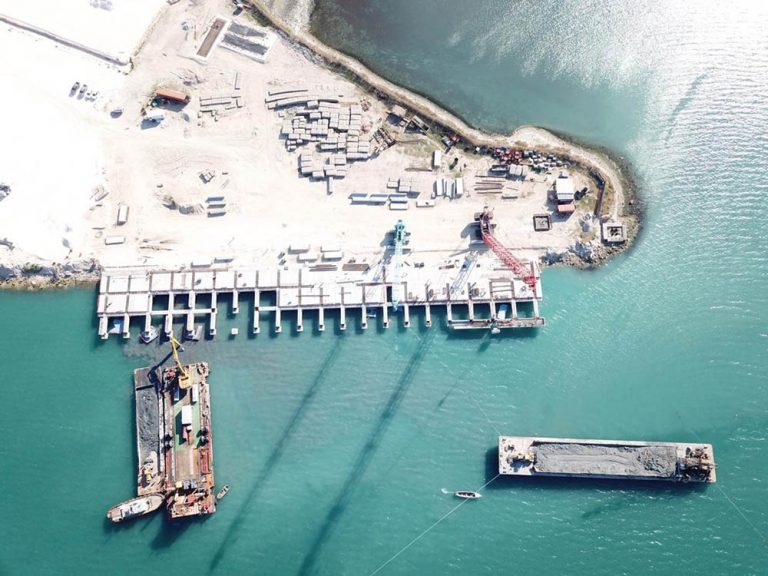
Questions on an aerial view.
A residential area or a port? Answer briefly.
port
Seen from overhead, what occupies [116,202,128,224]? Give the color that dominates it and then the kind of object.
white vehicle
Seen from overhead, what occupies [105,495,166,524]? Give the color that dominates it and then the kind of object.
white boat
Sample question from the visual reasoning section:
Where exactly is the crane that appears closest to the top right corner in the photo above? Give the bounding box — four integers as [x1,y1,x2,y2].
[472,202,541,336]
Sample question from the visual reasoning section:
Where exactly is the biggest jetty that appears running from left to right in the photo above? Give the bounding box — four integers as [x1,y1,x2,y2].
[97,254,541,340]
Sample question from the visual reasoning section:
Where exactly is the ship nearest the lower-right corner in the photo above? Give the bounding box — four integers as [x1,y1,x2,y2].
[496,436,716,483]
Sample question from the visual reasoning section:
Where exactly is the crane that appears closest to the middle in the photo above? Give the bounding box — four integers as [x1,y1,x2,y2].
[387,212,410,318]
